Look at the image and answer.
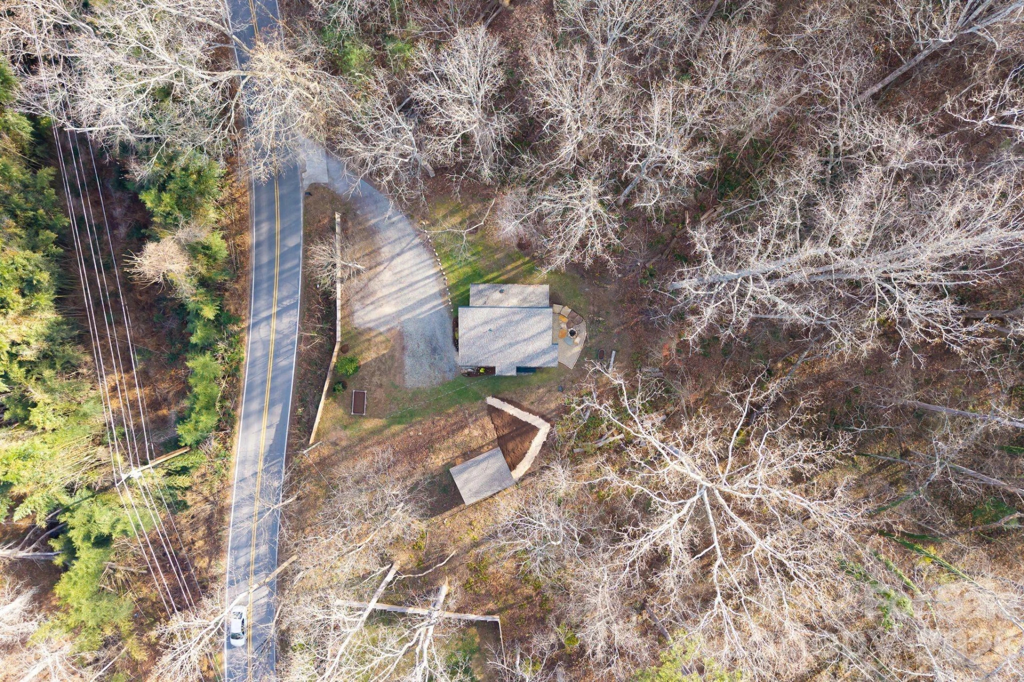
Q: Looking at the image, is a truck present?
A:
No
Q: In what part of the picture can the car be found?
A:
bottom left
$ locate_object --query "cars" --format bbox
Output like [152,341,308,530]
[226,606,247,648]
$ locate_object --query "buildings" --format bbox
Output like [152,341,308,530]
[457,283,559,375]
[450,446,515,505]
